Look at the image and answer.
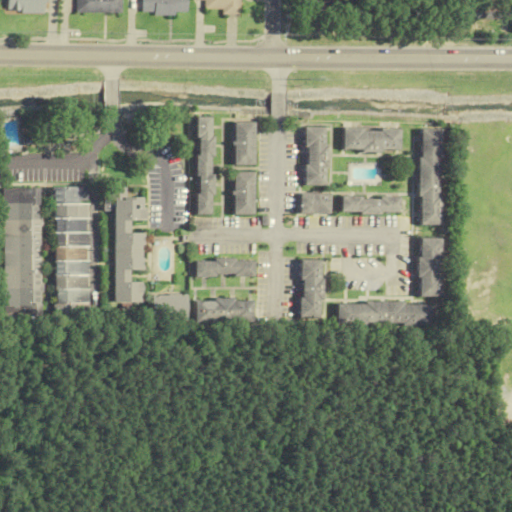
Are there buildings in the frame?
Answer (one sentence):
Yes, the image includes a building.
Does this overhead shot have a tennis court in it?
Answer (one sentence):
No, there is no tennis court in the image.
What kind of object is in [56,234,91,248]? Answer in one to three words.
house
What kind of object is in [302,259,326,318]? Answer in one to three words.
building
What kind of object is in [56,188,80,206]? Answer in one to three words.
house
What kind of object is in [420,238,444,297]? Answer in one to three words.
building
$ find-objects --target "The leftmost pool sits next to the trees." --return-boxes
[5,120,18,143]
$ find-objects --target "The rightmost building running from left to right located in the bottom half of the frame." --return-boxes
[339,301,428,324]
